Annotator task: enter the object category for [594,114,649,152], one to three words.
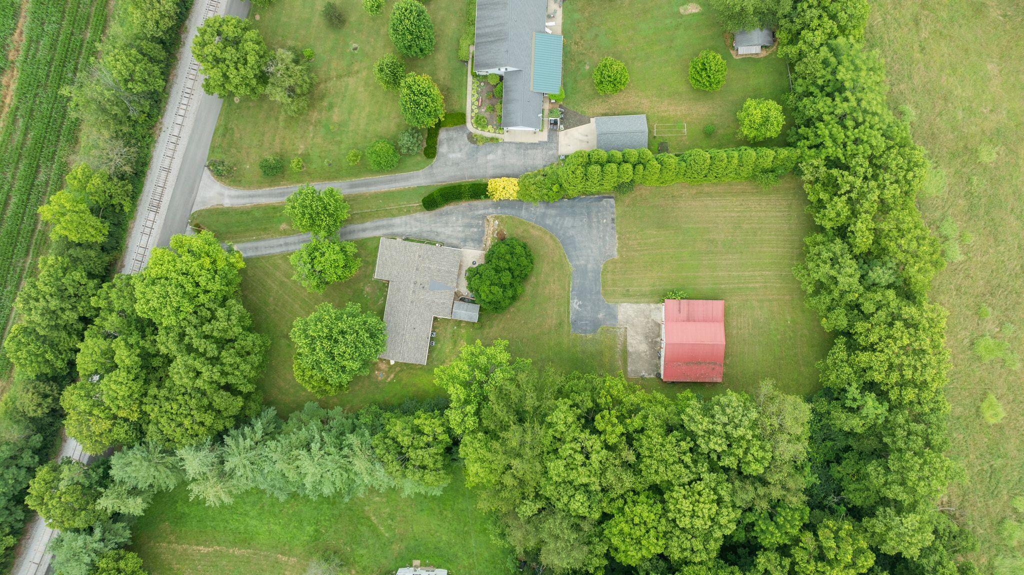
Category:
building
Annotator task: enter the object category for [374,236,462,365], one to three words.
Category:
house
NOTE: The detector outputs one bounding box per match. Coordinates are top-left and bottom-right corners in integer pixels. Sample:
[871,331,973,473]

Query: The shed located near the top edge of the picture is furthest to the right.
[732,13,774,60]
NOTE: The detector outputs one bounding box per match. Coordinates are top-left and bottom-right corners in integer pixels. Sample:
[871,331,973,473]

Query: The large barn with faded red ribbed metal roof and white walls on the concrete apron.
[660,299,729,384]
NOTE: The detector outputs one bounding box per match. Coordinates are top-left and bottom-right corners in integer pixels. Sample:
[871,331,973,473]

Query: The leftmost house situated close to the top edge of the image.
[473,0,563,131]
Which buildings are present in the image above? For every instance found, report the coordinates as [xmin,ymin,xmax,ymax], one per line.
[732,13,774,60]
[594,114,649,152]
[374,236,462,365]
[660,299,729,384]
[473,0,563,131]
[396,568,448,575]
